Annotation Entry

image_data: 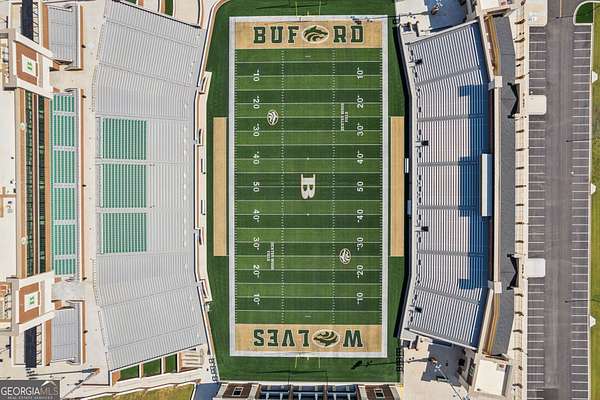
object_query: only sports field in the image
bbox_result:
[213,16,404,355]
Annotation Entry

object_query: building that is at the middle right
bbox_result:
[465,8,523,362]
